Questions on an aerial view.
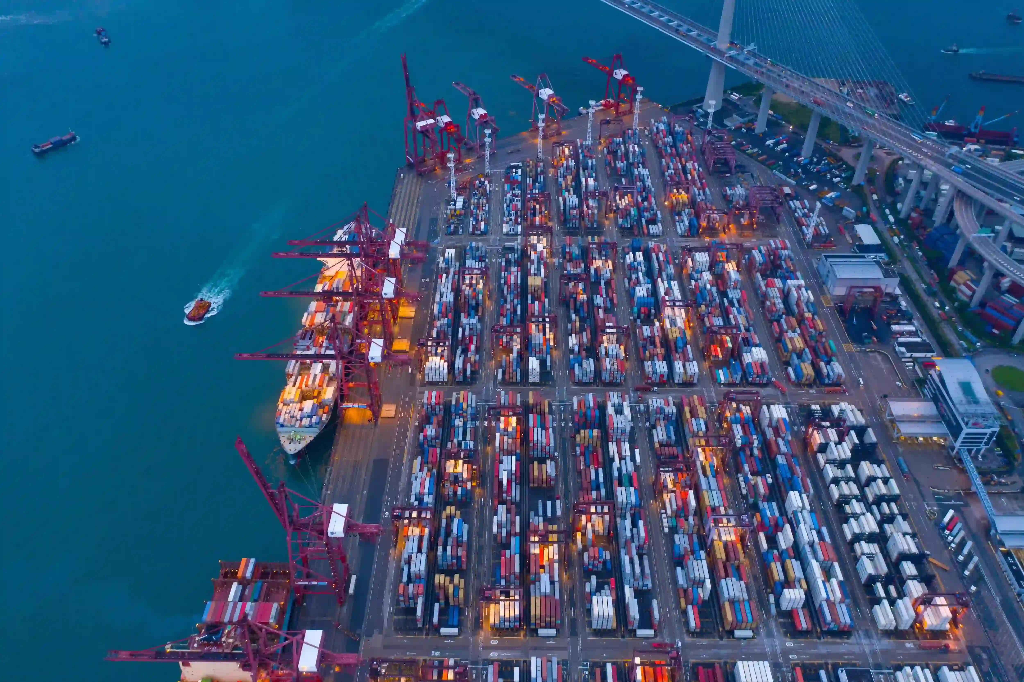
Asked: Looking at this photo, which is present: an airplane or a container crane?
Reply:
container crane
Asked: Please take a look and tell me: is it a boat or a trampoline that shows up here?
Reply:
boat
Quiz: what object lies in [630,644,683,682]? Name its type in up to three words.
container crane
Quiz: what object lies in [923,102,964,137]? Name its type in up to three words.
ship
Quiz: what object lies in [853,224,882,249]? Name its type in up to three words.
shed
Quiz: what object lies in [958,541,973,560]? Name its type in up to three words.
vehicle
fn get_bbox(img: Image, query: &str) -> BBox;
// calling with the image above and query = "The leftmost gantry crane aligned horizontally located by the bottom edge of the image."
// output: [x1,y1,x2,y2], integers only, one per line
[112,615,368,682]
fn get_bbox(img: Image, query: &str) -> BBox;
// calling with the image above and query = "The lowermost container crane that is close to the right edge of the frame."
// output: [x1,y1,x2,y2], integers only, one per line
[916,594,978,631]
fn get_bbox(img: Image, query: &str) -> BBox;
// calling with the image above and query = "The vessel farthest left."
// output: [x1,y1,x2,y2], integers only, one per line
[26,131,80,155]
